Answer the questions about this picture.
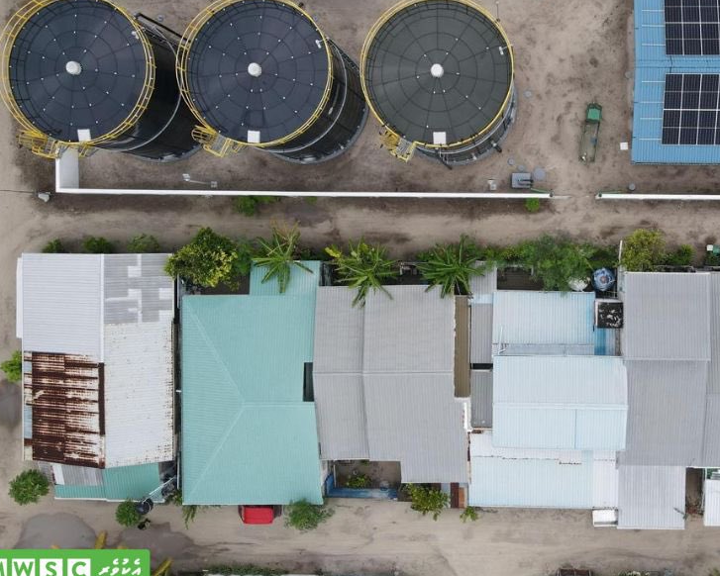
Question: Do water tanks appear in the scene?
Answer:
Yes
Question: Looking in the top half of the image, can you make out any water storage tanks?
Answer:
Yes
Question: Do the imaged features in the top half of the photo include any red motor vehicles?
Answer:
No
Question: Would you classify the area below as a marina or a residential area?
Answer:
residential area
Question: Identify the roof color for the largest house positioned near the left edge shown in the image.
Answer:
white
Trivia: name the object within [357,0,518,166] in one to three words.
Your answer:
water tank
